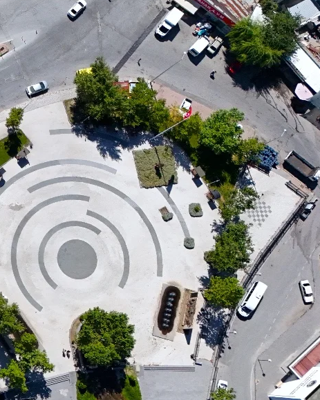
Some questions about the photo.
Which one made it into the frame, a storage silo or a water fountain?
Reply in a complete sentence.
I can see a water fountain in this picture.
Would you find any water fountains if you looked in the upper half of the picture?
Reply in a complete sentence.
No, no water fountain is visible in the upper half of the picture.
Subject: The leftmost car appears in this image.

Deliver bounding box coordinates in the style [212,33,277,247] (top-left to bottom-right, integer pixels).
[25,83,48,96]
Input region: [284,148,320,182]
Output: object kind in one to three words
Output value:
truck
